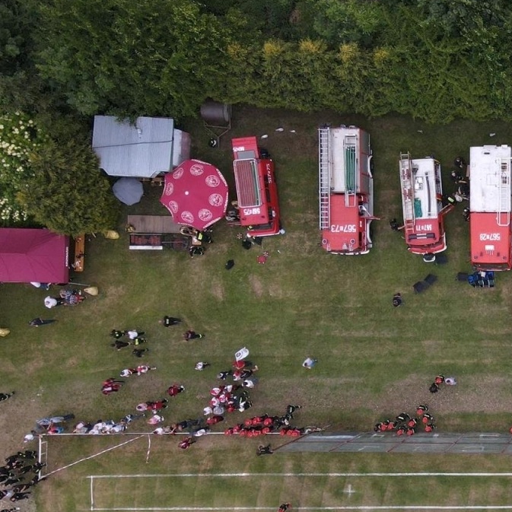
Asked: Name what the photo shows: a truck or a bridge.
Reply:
truck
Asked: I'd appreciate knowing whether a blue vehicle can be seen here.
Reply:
No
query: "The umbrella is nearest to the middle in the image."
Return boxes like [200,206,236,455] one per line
[162,159,233,229]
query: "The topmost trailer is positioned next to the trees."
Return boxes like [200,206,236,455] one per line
[197,101,233,150]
